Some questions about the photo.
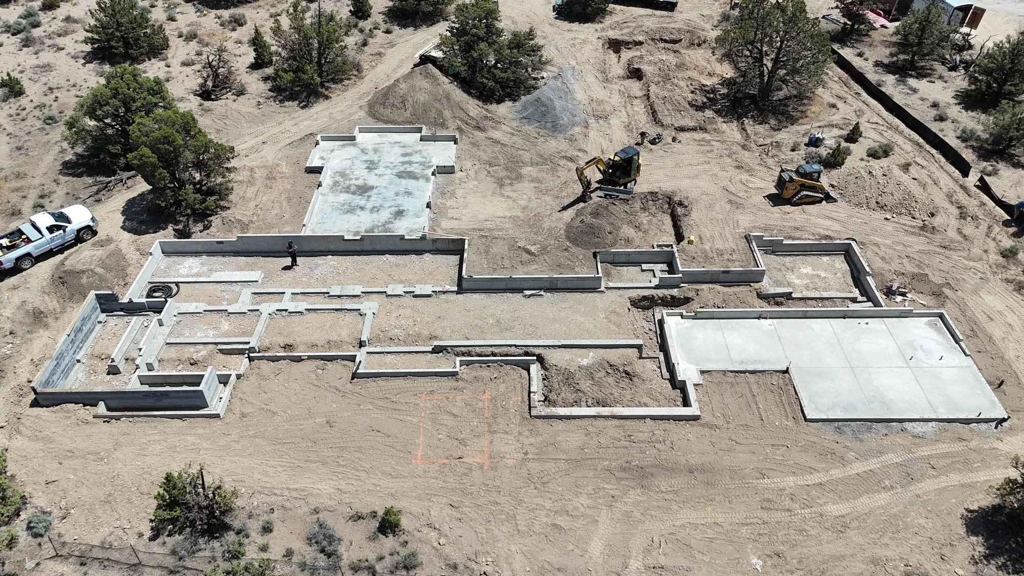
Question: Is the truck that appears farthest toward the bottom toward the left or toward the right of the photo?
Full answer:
The truck that appears farthest toward the bottom is on the left side of the image.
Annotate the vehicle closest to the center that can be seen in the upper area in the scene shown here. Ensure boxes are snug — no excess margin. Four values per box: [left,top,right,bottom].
[572,145,641,199]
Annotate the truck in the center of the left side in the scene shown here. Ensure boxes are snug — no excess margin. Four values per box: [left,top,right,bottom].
[0,206,103,272]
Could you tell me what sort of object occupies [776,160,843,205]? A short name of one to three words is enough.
work vehicle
